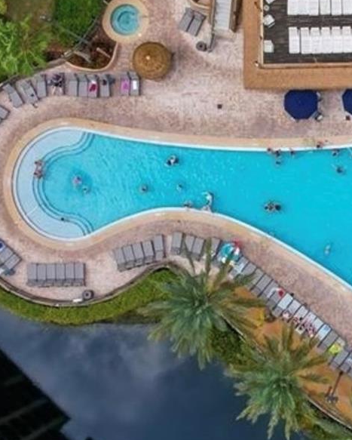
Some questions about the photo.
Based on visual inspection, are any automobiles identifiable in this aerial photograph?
No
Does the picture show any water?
Yes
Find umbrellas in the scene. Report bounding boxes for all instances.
[341,88,352,116]
[284,88,319,122]
[133,40,177,84]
